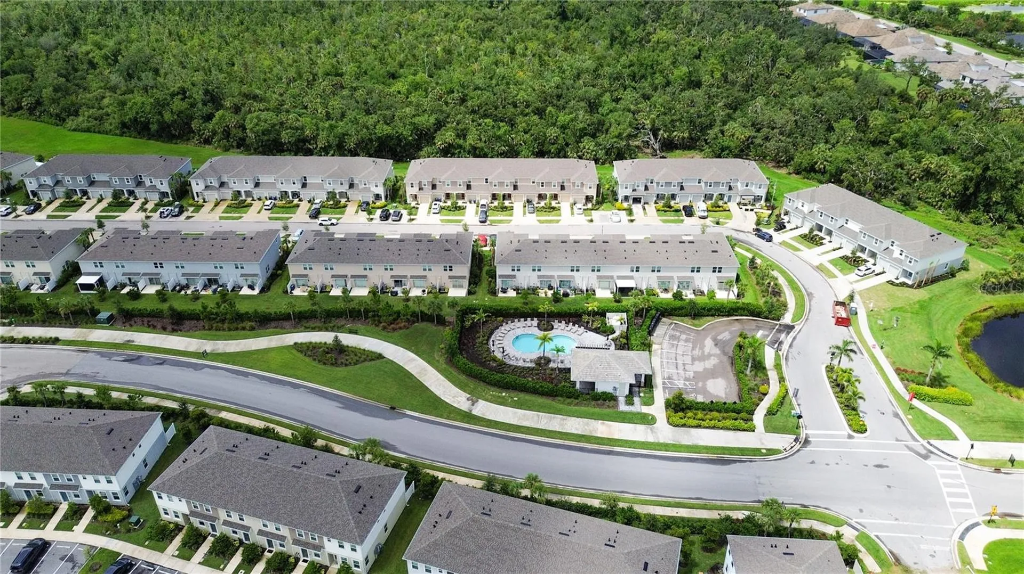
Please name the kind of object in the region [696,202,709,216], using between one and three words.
vehicle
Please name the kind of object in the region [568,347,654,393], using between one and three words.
building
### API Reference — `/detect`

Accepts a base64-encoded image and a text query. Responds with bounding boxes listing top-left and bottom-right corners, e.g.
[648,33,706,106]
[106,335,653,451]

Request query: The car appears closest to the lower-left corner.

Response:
[6,541,49,570]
